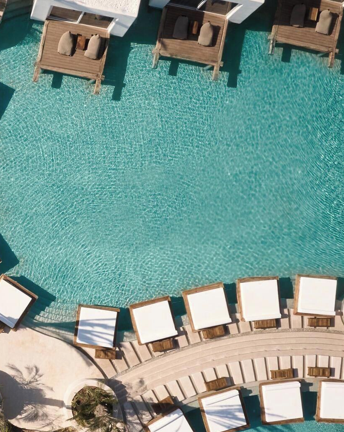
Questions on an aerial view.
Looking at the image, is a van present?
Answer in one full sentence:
No, the photo shows no van.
